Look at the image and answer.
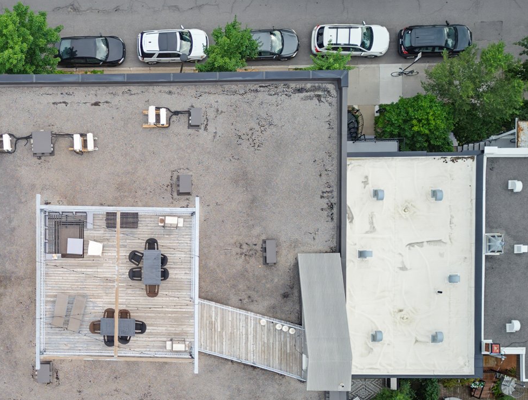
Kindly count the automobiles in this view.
five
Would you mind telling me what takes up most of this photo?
buildings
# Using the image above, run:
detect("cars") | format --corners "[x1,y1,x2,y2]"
[397,21,473,59]
[55,31,126,67]
[310,20,389,58]
[137,25,208,63]
[230,25,300,61]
